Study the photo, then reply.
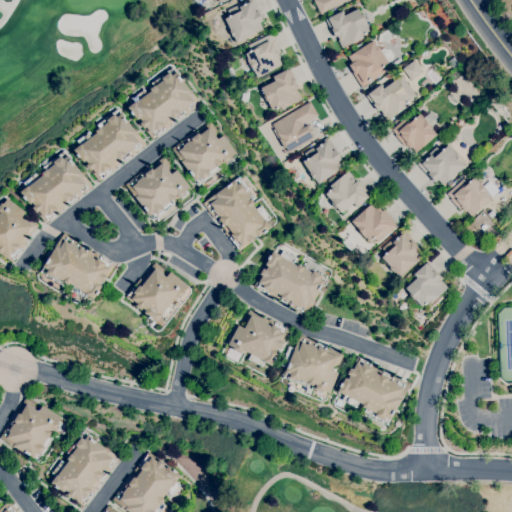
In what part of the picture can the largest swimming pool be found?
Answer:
top right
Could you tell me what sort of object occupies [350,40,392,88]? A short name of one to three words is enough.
house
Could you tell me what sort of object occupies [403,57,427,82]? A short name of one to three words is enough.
building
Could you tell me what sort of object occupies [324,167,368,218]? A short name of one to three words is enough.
house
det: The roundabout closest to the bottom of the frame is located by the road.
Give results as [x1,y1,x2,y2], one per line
[0,347,38,398]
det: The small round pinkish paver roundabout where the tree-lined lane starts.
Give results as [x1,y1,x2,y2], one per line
[210,258,240,288]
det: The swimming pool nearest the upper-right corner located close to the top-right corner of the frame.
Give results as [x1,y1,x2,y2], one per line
[421,47,449,67]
